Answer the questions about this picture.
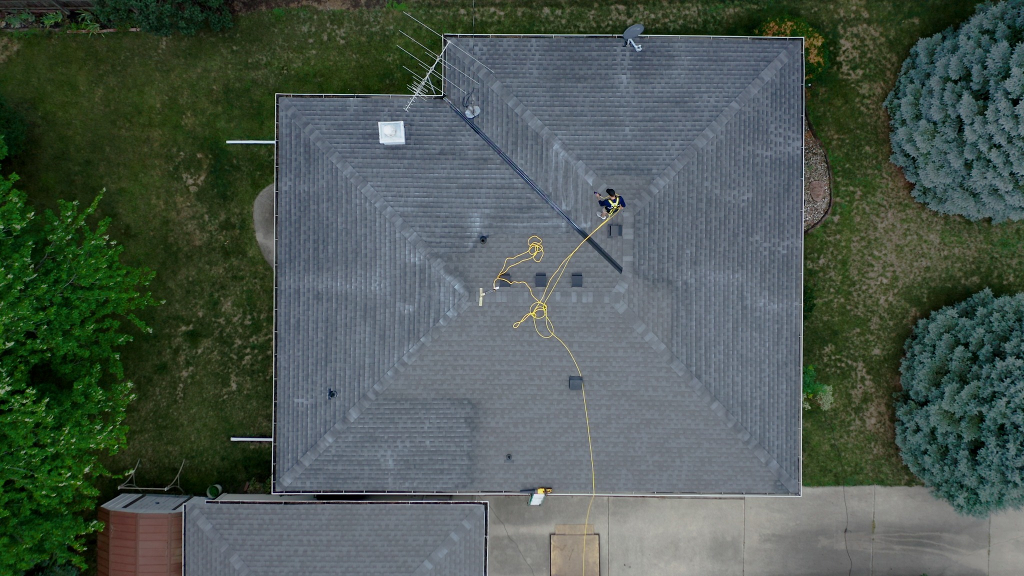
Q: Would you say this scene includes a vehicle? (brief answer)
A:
No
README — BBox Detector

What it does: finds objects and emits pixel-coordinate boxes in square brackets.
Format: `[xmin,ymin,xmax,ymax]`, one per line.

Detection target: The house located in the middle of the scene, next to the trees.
[226,36,804,497]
